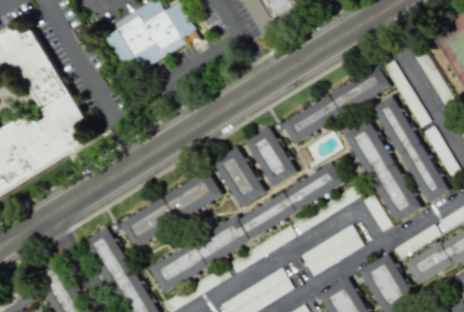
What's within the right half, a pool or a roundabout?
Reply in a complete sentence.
The feature located within the right half is a pool.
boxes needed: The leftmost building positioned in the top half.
[0,29,91,196]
